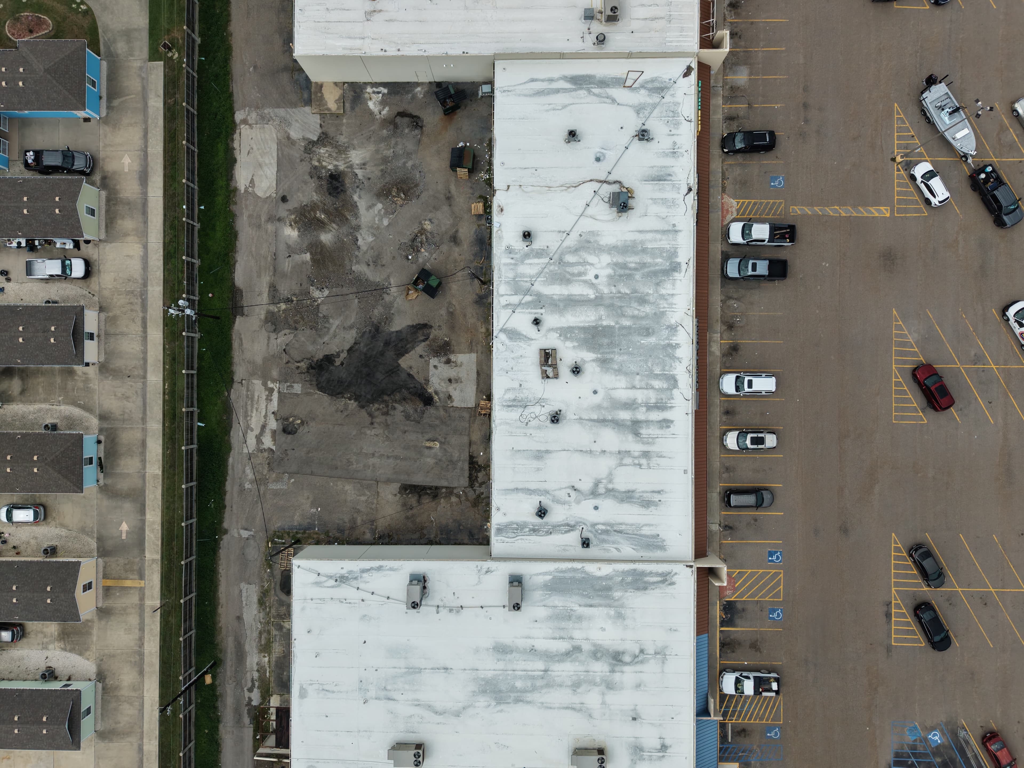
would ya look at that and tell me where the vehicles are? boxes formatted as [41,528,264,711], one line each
[722,130,777,158]
[0,499,46,524]
[911,602,950,654]
[717,669,780,699]
[1003,303,1024,348]
[723,487,774,512]
[968,166,1020,231]
[723,257,790,283]
[722,427,777,453]
[907,543,944,592]
[727,220,798,248]
[980,731,1017,768]
[910,165,950,212]
[24,253,93,279]
[0,622,24,641]
[912,365,954,415]
[1011,100,1024,132]
[719,372,777,398]
[21,143,94,172]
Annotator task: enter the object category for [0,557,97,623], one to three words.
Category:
house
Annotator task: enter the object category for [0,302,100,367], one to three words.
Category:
house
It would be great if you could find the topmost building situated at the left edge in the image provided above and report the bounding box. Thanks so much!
[0,38,101,171]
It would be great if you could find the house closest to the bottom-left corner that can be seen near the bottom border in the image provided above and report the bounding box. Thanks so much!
[0,680,96,751]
